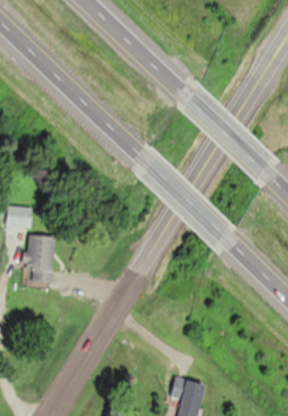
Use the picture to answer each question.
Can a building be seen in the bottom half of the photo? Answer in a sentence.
Yes, a building shows up in the bottom half of the photo.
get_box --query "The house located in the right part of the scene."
[164,376,205,416]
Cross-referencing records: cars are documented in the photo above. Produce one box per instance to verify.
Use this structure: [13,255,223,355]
[275,290,286,300]
[15,250,22,262]
[6,264,14,274]
[83,340,92,350]
[73,289,84,294]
